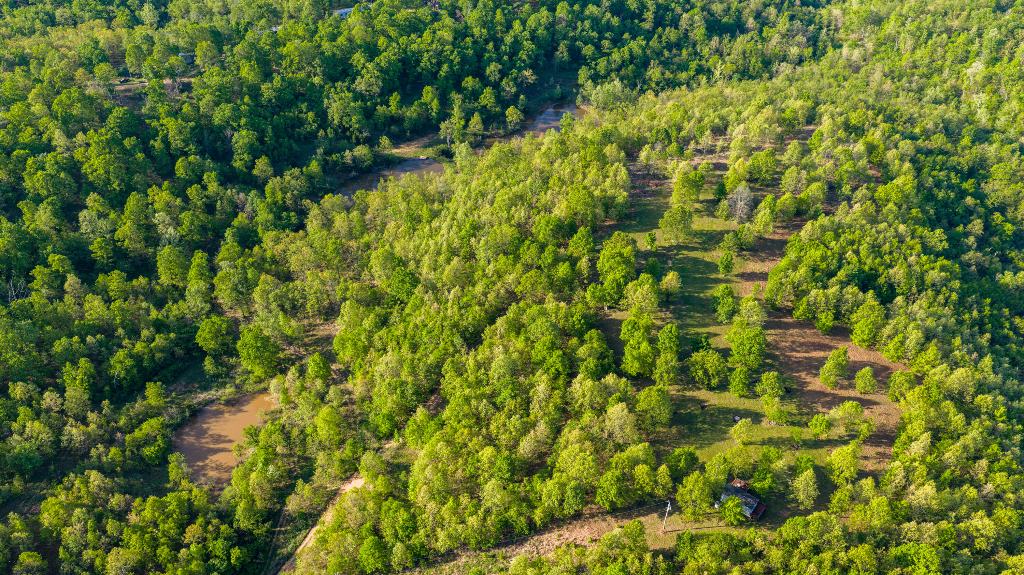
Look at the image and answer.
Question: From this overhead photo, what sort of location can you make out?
forest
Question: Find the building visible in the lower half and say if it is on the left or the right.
right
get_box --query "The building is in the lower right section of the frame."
[721,478,769,522]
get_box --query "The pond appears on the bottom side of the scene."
[173,393,278,502]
